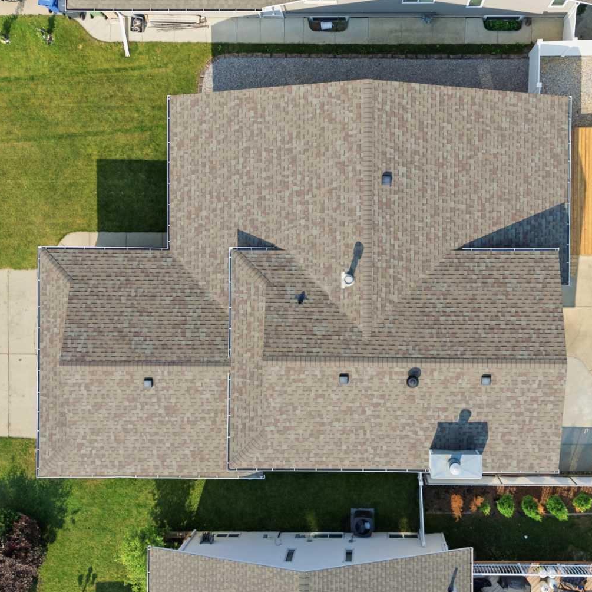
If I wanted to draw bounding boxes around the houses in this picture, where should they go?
[65,0,592,32]
[148,529,472,592]
[38,76,570,479]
